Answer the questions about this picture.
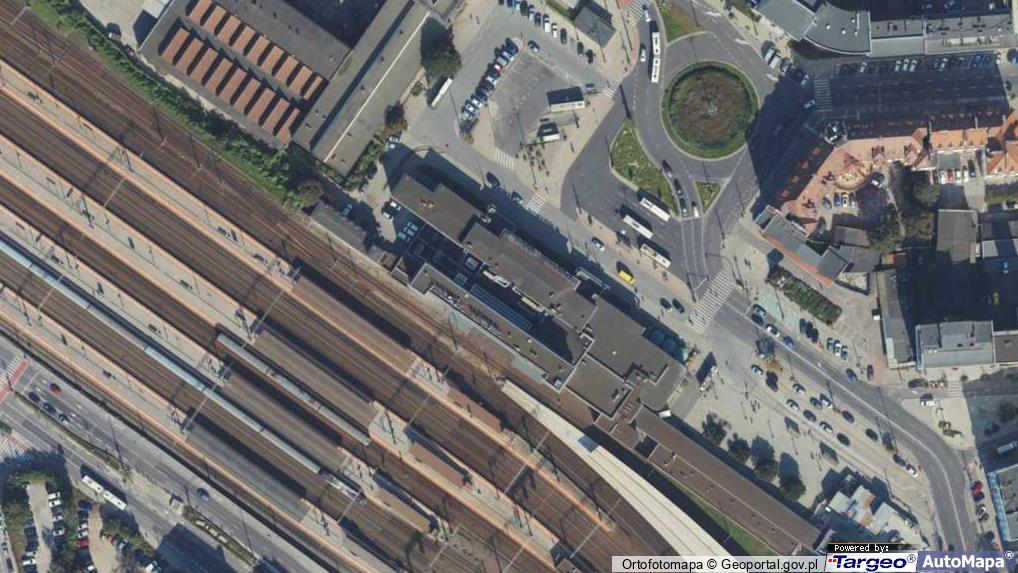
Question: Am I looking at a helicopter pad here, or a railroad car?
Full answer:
Of the two, only a railroad car appears.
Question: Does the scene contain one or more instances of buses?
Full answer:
Yes, the photo shows a bus.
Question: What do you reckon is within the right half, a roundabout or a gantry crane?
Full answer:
It is a roundabout that can be seen within the right half.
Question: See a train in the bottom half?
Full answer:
Yes, a train shows up in the bottom half.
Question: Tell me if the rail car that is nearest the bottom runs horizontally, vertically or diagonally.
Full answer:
Seen from above, the rail car that is nearest the bottom lies diagonally.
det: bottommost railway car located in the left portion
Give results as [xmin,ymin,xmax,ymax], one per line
[320,472,365,505]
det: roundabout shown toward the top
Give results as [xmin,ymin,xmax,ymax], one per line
[662,59,760,157]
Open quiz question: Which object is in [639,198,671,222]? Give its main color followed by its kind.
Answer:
white bus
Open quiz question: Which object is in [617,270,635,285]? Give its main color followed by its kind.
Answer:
yellow vehicle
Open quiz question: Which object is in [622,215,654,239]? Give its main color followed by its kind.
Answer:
white bus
